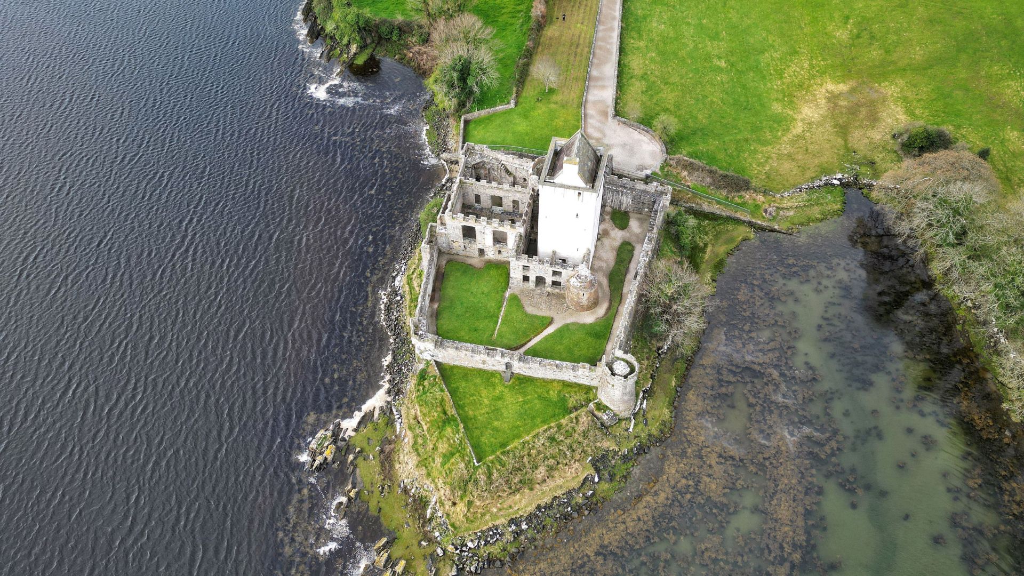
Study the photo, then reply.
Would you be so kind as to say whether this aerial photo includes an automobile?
No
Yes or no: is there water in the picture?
Yes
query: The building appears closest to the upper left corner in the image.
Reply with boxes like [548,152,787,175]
[433,138,545,273]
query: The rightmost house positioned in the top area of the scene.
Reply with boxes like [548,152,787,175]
[537,129,608,260]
